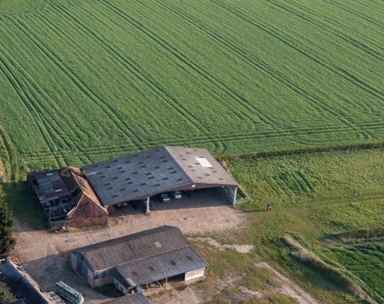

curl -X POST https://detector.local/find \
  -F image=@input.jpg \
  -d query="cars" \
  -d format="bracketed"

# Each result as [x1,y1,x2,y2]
[161,195,170,205]
[130,203,140,212]
[173,191,184,200]
[186,190,197,198]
